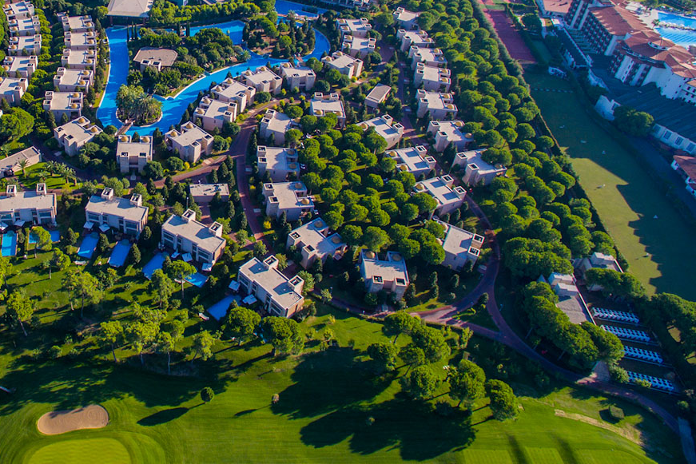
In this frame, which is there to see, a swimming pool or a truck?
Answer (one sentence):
Looking from above, you can make out a swimming pool.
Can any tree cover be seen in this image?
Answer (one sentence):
Yes, tree cover shows up in the scene.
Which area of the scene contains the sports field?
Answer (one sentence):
You can find the sports field in the right area of the picture.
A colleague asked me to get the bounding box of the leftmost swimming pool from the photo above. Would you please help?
[0,230,19,257]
